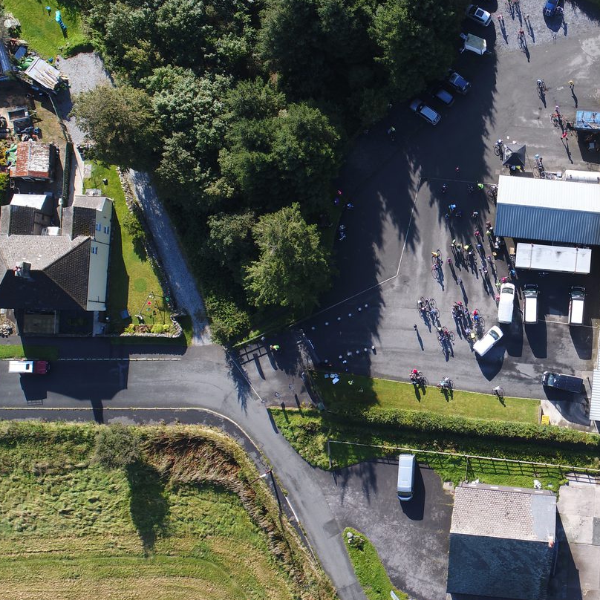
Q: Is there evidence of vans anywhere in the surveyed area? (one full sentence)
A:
Yes, you can see a van in this photo.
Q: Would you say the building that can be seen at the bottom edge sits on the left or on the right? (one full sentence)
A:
You can find the building that can be seen at the bottom edge on the right side of the picture.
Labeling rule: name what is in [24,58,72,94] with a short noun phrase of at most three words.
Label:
shed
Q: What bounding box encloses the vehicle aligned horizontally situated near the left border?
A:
[7,359,53,375]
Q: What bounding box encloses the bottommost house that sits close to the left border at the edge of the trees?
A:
[0,194,114,316]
